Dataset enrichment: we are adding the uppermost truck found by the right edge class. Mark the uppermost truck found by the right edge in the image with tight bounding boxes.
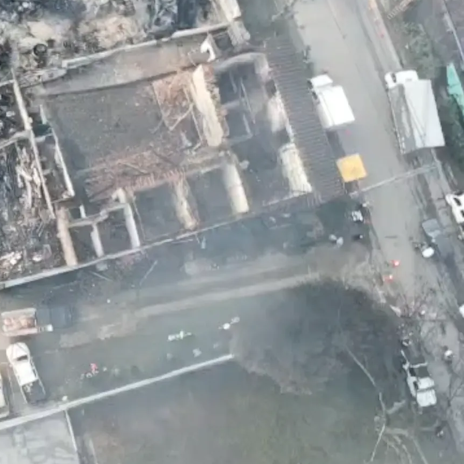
[390,68,451,154]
